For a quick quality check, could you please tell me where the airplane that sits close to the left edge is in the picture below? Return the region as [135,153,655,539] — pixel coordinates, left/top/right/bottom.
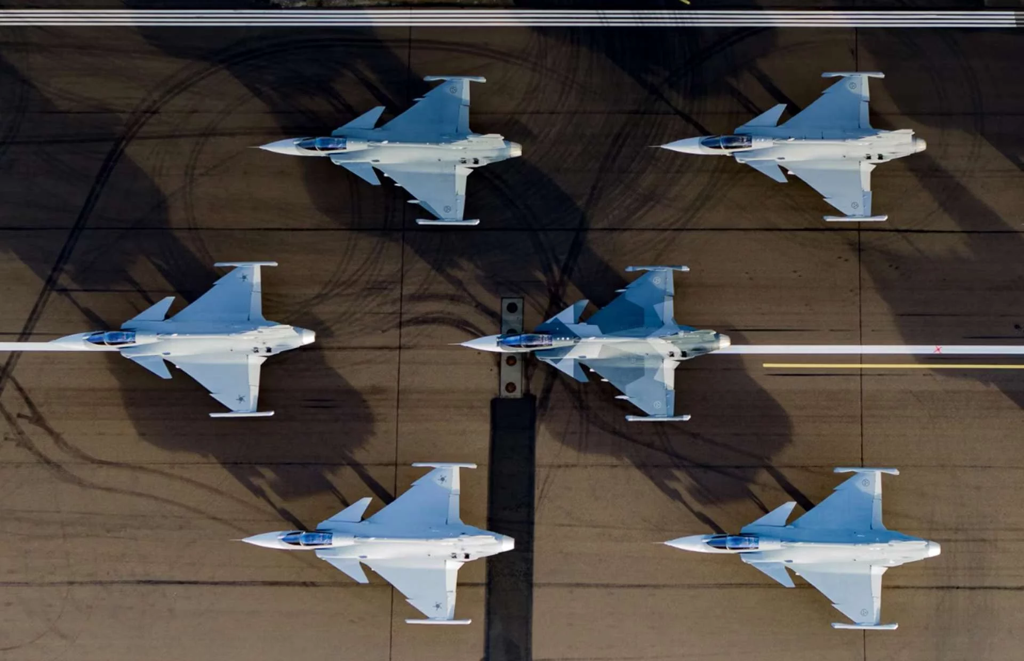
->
[40,260,316,419]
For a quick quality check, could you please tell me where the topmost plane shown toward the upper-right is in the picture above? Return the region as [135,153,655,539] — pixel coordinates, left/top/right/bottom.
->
[648,70,927,223]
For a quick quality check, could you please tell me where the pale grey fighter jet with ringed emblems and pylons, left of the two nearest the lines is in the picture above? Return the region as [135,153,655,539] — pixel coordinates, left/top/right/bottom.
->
[255,75,521,226]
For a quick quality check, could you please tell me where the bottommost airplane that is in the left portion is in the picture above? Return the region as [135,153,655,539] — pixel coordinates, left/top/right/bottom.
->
[238,463,515,625]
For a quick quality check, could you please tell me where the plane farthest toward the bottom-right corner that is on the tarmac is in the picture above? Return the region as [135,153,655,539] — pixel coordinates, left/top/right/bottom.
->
[664,467,941,631]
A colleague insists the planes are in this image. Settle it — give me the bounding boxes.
[40,260,316,419]
[664,467,941,631]
[255,75,521,226]
[459,265,731,422]
[648,70,927,223]
[238,463,515,625]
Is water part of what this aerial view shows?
No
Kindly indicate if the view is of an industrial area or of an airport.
airport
